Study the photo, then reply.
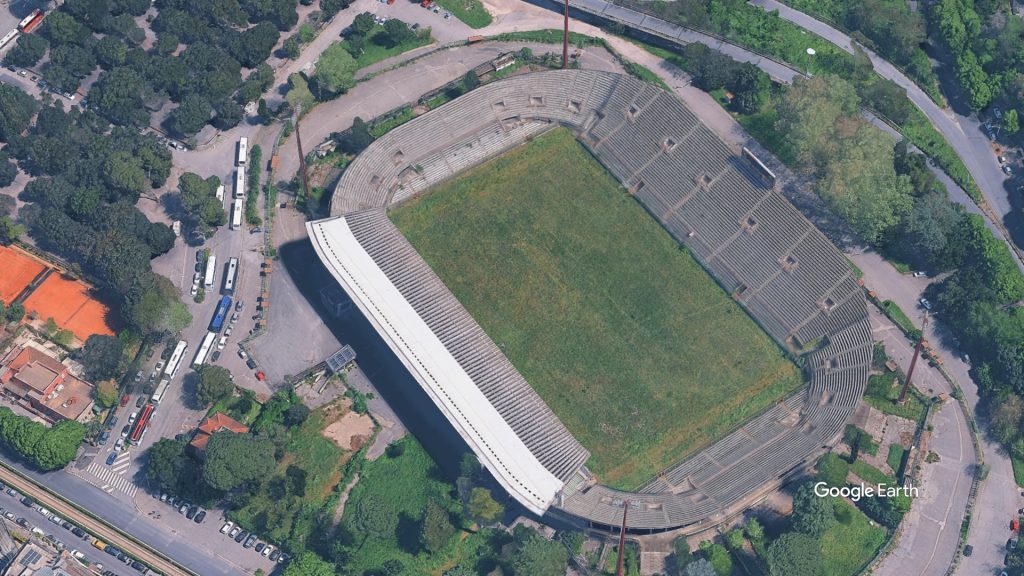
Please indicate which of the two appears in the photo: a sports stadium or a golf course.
sports stadium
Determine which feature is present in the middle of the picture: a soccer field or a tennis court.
soccer field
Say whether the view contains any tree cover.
Yes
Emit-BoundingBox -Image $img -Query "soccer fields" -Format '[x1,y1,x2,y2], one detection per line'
[389,128,805,490]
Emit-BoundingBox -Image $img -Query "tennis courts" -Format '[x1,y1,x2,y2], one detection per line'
[0,240,46,305]
[23,271,116,342]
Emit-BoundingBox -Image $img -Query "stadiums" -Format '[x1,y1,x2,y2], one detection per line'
[306,69,878,554]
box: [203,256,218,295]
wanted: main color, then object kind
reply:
white vehicle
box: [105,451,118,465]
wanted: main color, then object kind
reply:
blue vehicle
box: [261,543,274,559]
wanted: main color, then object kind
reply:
white vehicle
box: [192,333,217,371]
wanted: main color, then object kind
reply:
white bus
